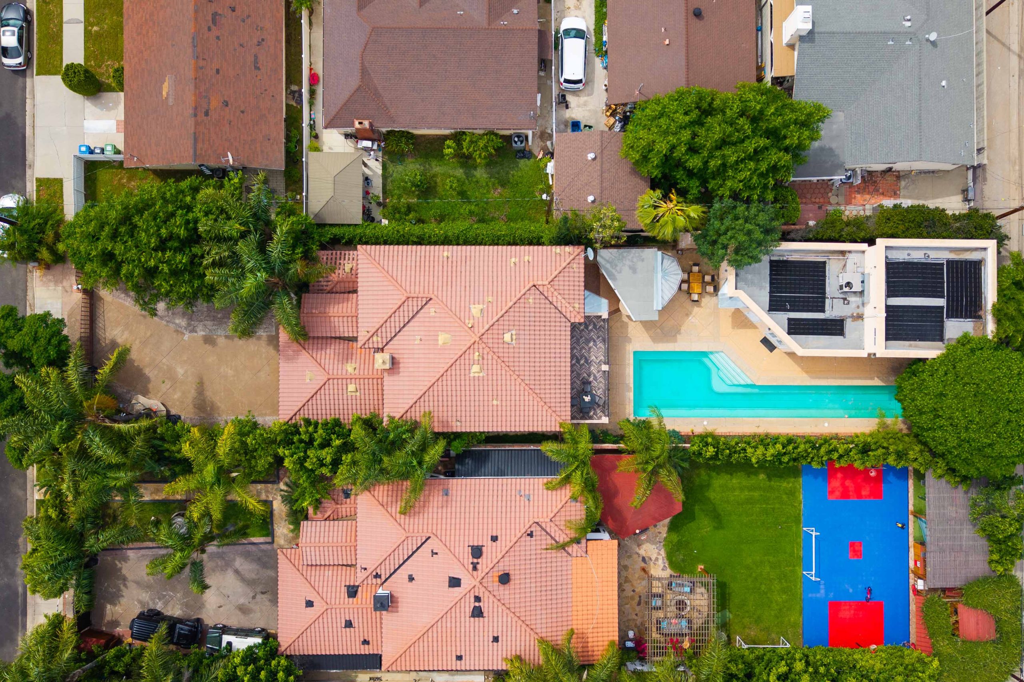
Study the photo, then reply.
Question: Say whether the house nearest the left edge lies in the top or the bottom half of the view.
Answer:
top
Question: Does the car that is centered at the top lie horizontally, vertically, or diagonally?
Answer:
vertically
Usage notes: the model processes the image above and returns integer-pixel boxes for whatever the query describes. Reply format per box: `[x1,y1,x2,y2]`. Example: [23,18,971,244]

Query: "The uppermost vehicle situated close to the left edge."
[0,3,36,75]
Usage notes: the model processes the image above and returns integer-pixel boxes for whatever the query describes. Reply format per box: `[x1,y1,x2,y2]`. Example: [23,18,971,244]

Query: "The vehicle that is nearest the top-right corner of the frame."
[557,19,591,92]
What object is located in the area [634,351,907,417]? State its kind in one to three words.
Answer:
swimming pool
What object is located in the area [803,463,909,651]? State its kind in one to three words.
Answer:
sports court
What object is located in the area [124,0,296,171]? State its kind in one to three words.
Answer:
house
